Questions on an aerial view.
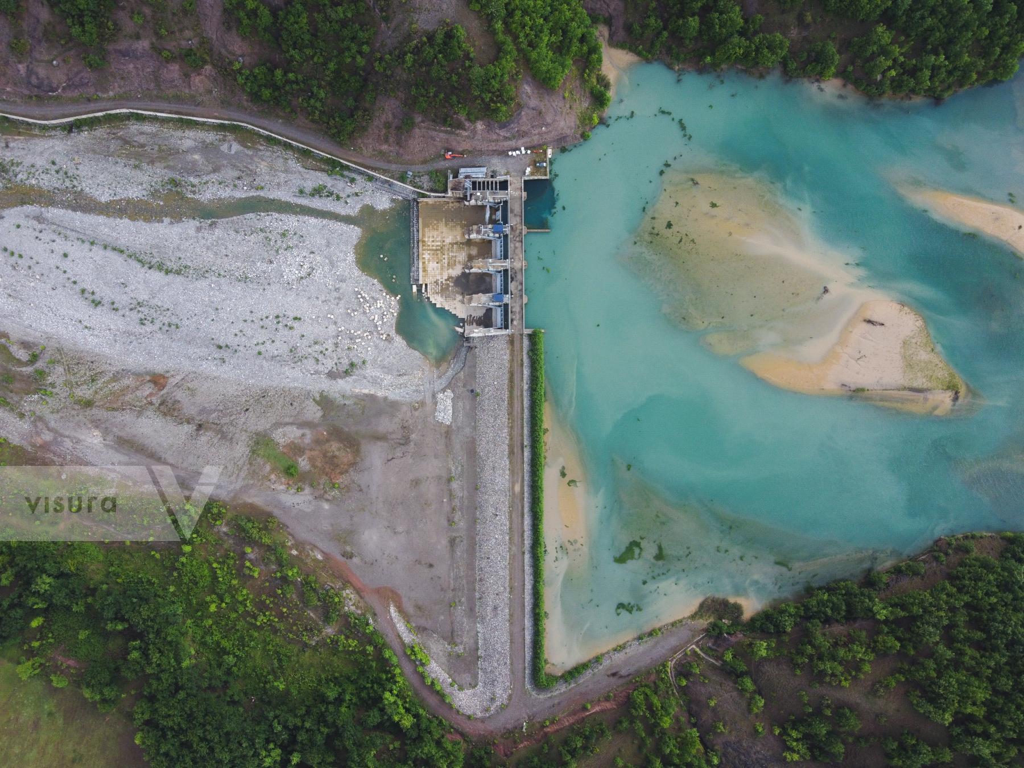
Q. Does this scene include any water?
Yes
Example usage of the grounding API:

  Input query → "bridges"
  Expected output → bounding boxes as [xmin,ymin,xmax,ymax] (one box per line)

[508,176,524,334]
